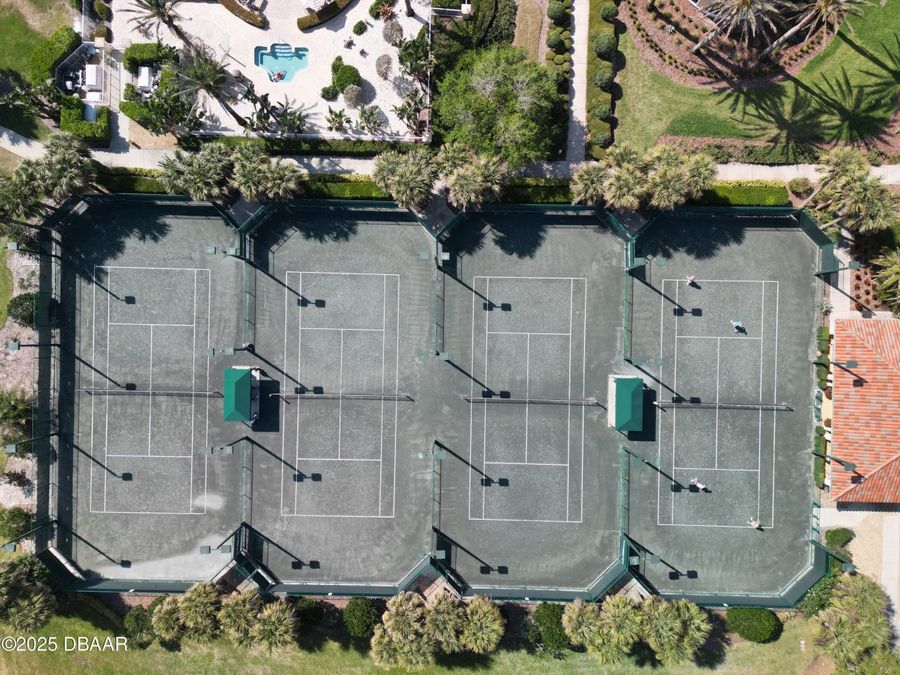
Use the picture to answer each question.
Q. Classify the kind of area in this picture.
sports ground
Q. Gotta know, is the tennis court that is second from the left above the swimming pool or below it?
below it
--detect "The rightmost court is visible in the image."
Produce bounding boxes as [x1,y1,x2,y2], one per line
[621,212,824,599]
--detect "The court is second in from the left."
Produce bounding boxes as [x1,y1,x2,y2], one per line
[243,204,436,588]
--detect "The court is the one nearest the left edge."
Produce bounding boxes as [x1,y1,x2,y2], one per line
[48,200,246,584]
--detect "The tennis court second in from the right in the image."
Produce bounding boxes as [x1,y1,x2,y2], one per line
[433,208,627,592]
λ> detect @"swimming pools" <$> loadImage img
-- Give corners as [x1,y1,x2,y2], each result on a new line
[251,37,311,84]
